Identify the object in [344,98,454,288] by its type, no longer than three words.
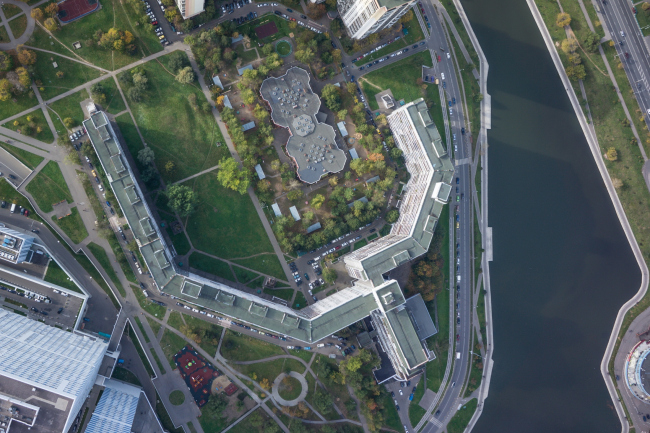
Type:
building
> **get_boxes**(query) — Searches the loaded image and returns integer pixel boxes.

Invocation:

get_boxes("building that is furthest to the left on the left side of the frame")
[0,227,34,265]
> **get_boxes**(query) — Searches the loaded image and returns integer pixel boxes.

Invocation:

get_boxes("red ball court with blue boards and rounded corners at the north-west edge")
[58,0,97,21]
